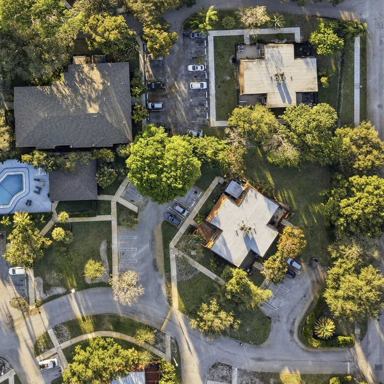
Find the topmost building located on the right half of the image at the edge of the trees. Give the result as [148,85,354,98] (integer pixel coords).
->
[235,40,318,109]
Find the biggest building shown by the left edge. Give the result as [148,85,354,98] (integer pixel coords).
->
[15,64,132,148]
